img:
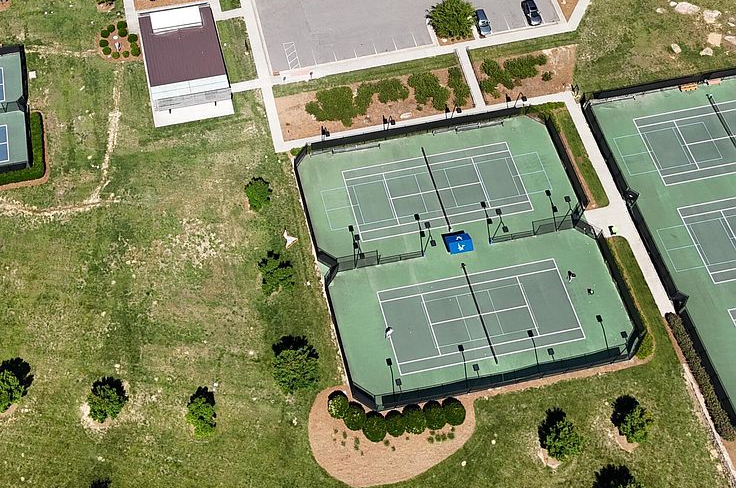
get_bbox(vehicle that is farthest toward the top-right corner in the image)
[521,0,541,26]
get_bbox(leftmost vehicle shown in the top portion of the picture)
[473,9,492,37]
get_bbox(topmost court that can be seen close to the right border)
[587,77,736,205]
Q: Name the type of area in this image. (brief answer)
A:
sports ground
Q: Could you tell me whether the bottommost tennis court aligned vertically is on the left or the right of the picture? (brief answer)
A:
right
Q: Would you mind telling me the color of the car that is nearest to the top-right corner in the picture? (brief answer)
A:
black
